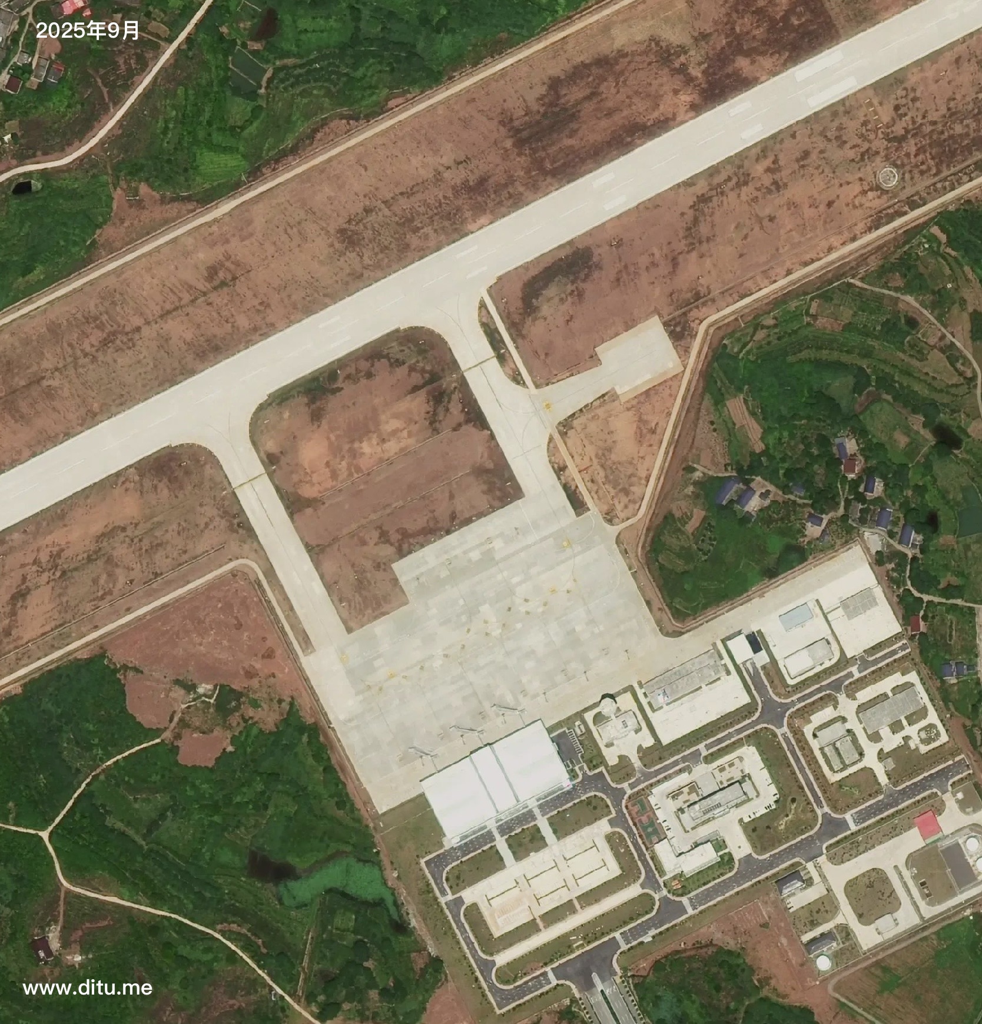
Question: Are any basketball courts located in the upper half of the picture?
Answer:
No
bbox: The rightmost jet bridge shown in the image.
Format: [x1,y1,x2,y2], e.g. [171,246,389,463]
[490,702,526,726]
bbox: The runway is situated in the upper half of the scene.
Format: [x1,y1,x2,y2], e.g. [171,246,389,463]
[0,0,982,530]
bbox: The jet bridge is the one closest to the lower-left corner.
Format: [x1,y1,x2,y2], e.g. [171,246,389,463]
[408,746,439,772]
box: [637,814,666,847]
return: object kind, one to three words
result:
basketball court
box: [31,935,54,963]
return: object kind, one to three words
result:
house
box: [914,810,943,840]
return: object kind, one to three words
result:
shed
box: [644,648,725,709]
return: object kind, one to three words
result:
building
